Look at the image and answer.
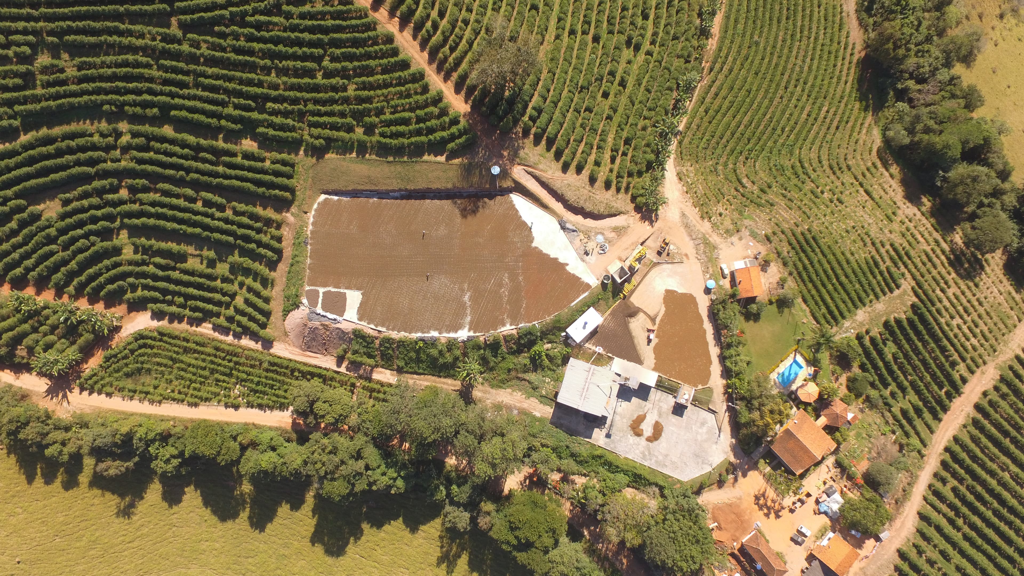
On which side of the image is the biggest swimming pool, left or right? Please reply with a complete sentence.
It is on the right.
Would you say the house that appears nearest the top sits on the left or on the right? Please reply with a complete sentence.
You can find the house that appears nearest the top on the right side of the picture.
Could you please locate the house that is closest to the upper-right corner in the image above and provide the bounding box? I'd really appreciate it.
[732,259,764,299]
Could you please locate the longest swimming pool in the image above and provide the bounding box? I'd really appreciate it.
[773,355,807,391]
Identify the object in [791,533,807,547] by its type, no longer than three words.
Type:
vehicle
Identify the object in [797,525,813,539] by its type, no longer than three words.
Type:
vehicle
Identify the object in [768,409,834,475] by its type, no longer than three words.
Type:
house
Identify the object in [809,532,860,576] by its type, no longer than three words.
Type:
building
